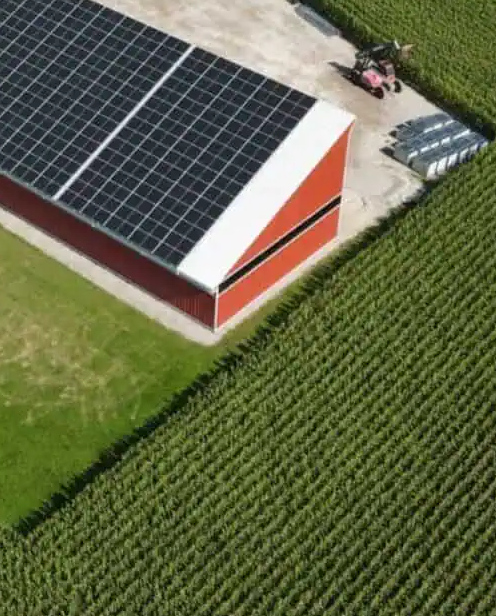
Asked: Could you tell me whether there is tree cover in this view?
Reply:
No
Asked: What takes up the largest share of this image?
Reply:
farmland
